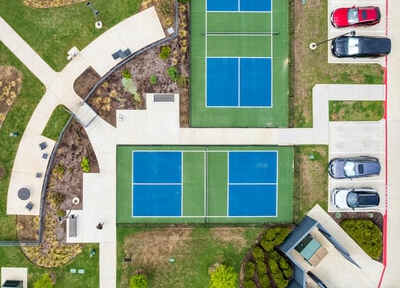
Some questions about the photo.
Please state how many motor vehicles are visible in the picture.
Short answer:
4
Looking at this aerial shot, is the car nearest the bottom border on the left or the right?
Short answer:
right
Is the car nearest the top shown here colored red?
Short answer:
Yes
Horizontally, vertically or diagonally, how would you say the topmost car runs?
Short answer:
horizontally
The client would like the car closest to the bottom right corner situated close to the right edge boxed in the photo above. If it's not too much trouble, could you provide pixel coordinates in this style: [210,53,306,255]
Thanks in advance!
[328,188,382,213]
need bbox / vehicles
[327,5,382,30]
[328,188,382,213]
[328,34,392,60]
[325,156,382,181]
